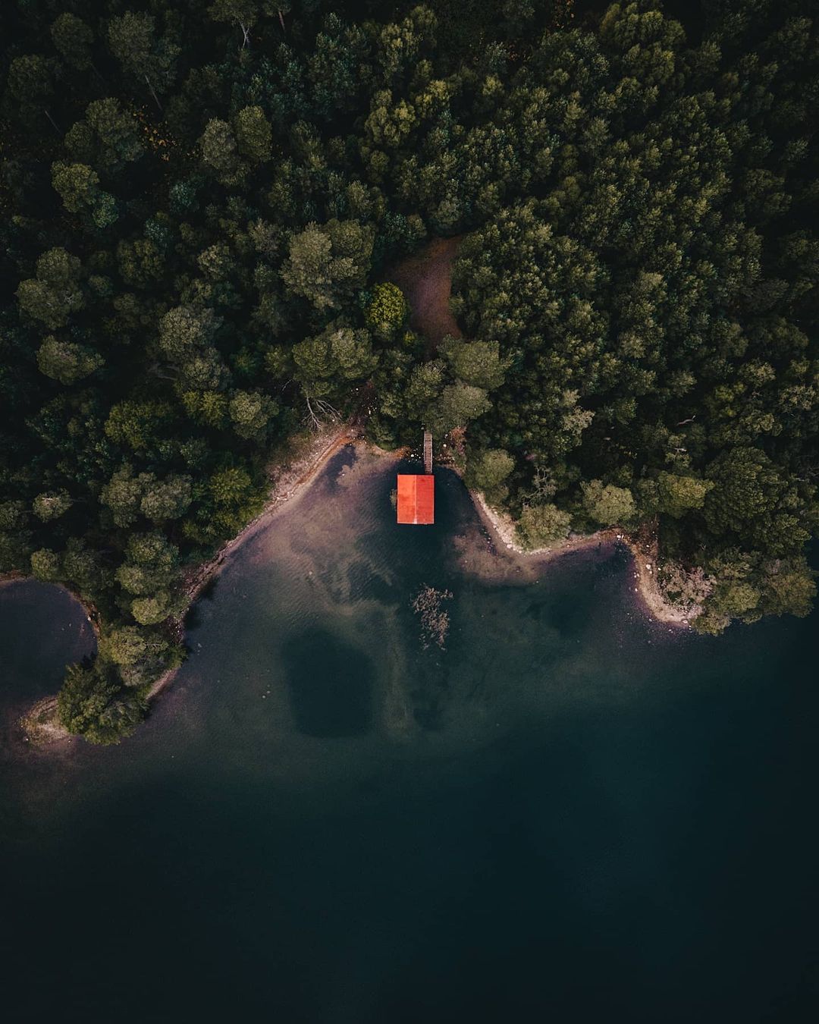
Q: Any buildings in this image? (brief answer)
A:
Yes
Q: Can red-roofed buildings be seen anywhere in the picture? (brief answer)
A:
Yes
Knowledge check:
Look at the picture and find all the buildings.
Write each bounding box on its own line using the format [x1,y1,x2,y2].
[397,474,434,524]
